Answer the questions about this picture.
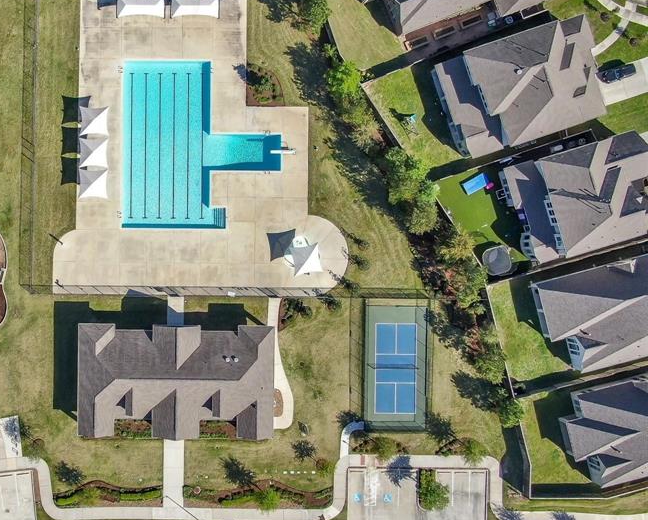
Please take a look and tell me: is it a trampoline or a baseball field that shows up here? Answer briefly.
trampoline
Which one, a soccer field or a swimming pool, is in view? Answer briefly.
swimming pool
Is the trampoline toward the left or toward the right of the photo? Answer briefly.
right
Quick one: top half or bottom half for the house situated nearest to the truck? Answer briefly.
top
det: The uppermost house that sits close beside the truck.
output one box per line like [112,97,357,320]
[429,15,607,159]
